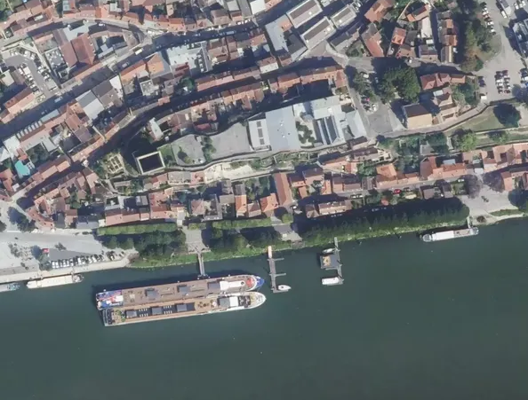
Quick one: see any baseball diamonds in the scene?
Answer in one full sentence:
No, there is no baseball diamond in the image.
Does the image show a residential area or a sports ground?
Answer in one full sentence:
The picture captures a residential area.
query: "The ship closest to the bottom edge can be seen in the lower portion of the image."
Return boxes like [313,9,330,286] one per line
[102,293,267,327]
